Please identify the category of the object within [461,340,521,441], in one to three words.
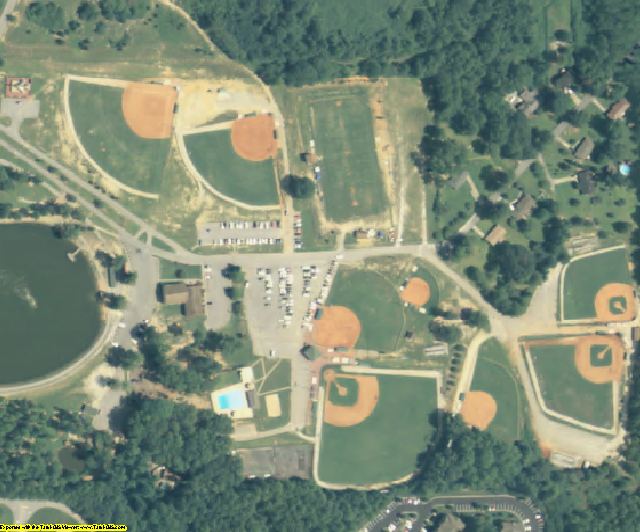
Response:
baseball field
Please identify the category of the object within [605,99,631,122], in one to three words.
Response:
house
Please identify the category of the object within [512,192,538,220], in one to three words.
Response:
house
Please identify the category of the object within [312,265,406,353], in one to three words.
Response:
baseball field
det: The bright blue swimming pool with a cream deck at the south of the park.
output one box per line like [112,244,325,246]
[211,383,254,418]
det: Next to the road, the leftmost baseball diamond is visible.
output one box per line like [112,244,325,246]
[64,75,176,198]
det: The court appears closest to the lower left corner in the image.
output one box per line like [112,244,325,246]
[242,449,273,478]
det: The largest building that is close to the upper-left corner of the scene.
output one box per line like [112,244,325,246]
[6,78,31,98]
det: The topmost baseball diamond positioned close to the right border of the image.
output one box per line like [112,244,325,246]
[561,245,636,322]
